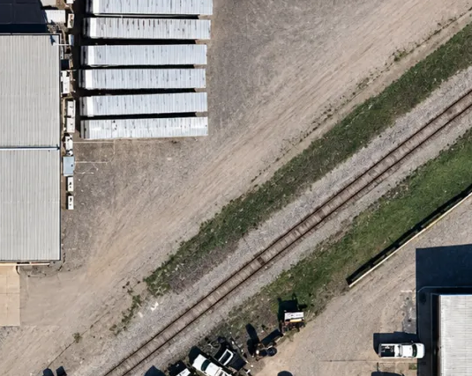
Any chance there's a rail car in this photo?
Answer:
No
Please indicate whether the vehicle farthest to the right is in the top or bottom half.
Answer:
bottom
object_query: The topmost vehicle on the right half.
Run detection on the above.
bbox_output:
[281,308,300,330]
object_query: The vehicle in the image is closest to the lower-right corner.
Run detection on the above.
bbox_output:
[378,341,422,361]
